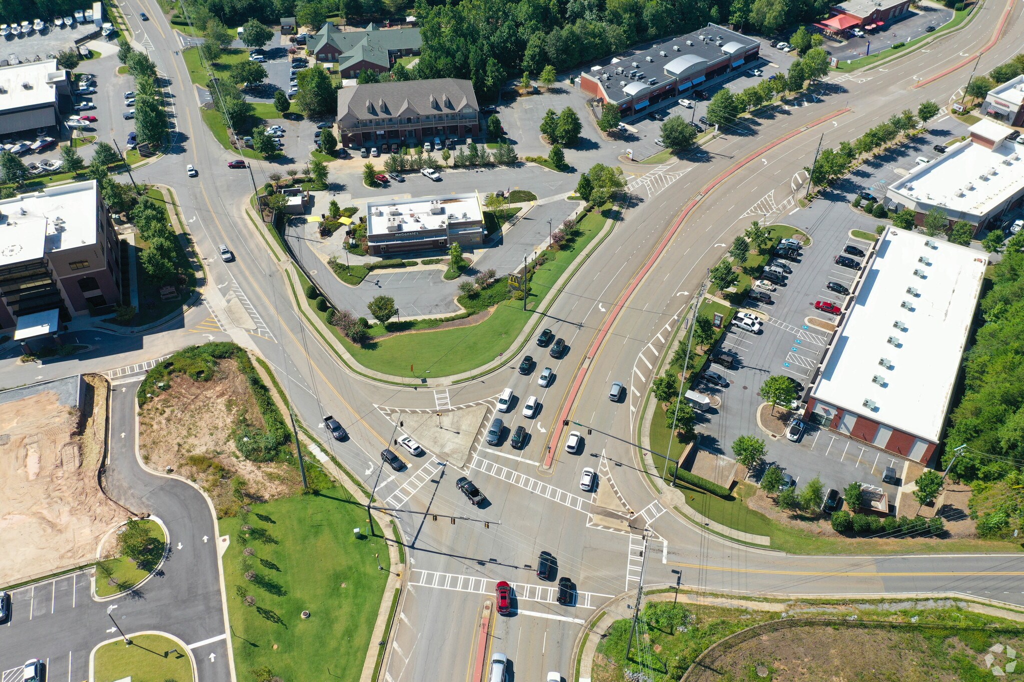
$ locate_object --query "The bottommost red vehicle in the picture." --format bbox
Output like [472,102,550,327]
[496,581,511,613]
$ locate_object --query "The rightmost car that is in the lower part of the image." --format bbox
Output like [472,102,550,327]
[881,462,898,489]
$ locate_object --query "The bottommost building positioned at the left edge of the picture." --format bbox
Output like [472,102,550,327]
[0,180,122,328]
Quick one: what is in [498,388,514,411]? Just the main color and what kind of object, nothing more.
white car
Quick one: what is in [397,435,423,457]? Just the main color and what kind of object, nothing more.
white car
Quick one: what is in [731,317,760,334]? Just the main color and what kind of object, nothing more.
white vehicle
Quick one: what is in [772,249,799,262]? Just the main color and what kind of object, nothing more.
black vehicle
